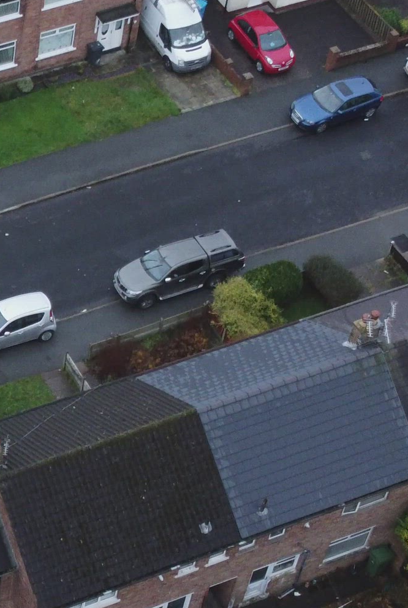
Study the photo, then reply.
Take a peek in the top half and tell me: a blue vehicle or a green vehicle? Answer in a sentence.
You can see a blue vehicle in the top half.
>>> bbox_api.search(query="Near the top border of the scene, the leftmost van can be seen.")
[138,0,211,77]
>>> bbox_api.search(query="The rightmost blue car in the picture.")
[288,73,385,134]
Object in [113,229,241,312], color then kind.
gray truck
